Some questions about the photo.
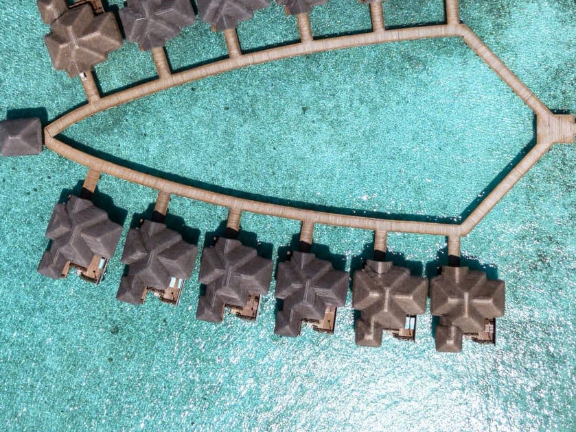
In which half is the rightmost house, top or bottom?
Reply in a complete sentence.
Seen from above, the rightmost house lies in the bottom half of the view.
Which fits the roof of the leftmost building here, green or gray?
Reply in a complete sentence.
The color of the roof of the leftmost building is gray.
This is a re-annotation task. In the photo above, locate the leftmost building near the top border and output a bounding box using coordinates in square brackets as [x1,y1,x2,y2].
[33,0,123,80]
